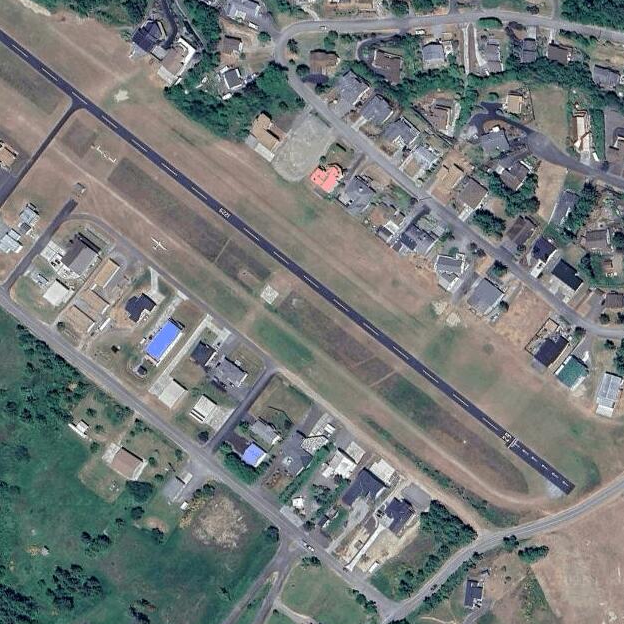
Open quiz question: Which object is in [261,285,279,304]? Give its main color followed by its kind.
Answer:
white helipad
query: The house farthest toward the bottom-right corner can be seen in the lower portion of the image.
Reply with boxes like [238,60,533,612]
[463,581,484,607]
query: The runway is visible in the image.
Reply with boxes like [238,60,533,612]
[0,26,575,493]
